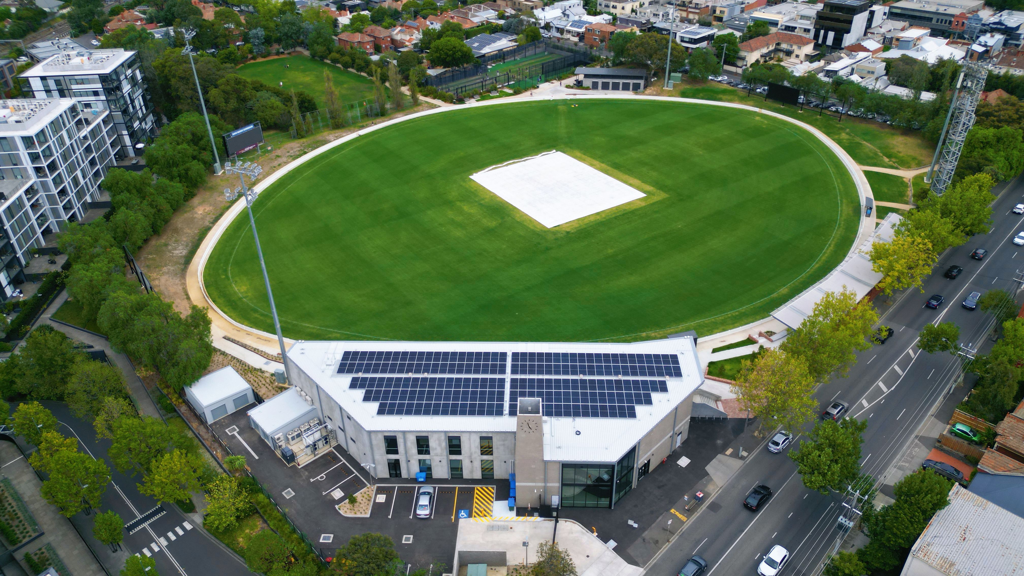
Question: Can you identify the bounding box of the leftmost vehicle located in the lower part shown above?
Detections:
[415,486,435,519]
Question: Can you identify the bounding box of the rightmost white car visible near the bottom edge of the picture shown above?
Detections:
[756,541,791,576]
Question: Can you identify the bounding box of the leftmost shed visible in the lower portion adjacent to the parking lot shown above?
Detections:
[182,364,256,426]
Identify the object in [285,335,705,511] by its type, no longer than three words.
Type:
building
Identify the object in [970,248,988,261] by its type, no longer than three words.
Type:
vehicle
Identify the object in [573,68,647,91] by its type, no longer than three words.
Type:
shed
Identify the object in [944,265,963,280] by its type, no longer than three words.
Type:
car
